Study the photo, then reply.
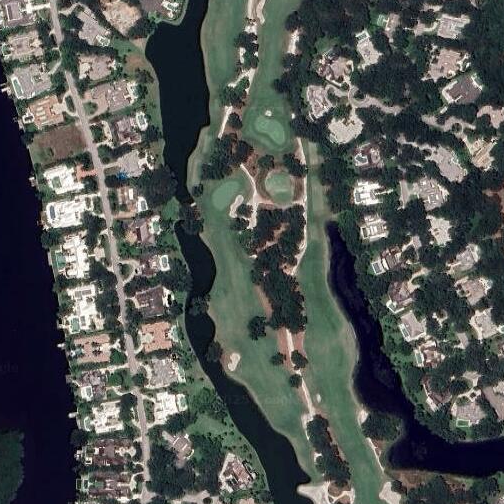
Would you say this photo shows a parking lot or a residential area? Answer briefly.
residential area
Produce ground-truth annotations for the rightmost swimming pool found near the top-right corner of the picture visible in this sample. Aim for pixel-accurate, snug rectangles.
[457,50,474,67]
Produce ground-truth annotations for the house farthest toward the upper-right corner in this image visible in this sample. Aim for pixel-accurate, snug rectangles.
[437,14,469,38]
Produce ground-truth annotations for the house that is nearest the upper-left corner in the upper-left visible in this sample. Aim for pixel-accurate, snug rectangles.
[0,0,38,24]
